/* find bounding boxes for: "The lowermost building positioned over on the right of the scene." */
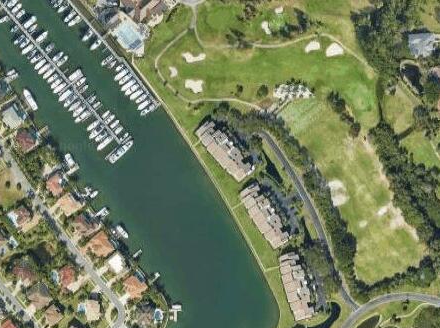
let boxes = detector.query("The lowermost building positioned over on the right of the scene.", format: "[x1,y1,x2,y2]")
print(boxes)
[278,253,316,319]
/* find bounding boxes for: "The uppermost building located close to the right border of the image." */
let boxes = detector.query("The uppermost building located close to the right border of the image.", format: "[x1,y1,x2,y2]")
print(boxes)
[408,32,435,53]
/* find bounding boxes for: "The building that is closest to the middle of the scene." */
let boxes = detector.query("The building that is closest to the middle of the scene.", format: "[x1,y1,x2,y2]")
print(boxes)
[194,120,254,182]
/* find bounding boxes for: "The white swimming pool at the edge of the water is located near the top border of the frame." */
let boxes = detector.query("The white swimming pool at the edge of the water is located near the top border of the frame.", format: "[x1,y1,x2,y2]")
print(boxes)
[110,12,145,56]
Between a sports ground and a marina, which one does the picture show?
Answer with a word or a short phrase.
marina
